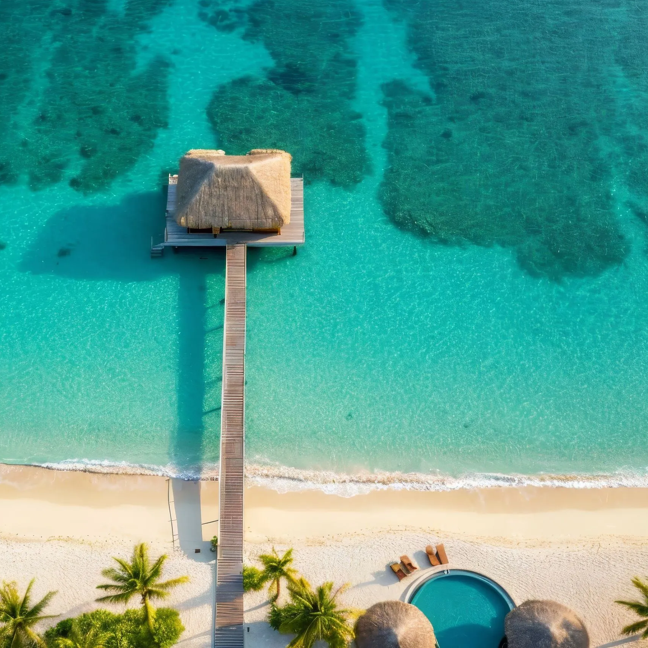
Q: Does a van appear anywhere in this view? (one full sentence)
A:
No, no van is visible in the scene.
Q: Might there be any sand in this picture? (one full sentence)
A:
Yes, some sand is visible.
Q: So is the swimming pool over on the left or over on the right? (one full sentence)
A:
You can find the swimming pool on the right side of the picture.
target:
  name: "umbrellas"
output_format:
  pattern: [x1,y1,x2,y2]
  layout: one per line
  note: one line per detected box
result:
[352,603,438,648]
[501,601,592,648]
